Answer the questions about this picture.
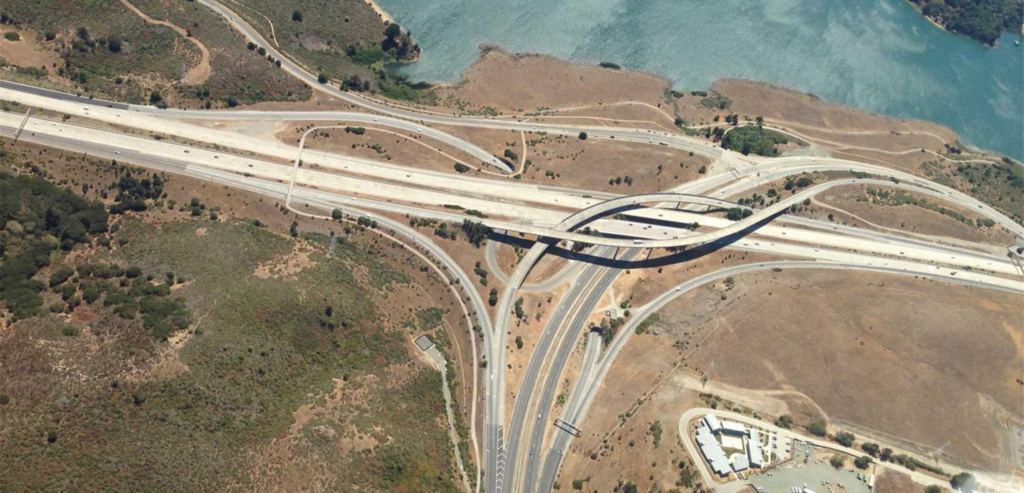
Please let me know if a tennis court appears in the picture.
No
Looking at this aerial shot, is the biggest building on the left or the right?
right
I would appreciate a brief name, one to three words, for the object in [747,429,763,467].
building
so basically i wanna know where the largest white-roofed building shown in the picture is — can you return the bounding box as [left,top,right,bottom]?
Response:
[696,427,731,476]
